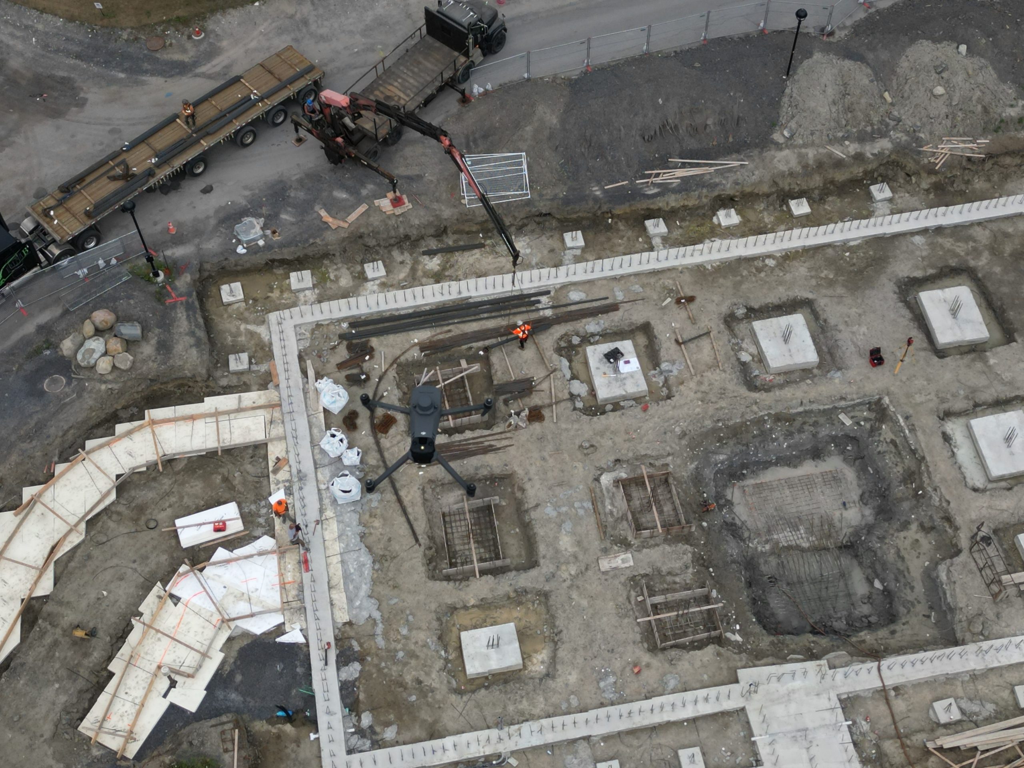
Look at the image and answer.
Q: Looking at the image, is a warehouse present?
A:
No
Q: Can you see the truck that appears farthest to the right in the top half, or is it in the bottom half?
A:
top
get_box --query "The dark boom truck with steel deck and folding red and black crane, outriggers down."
[294,0,524,287]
